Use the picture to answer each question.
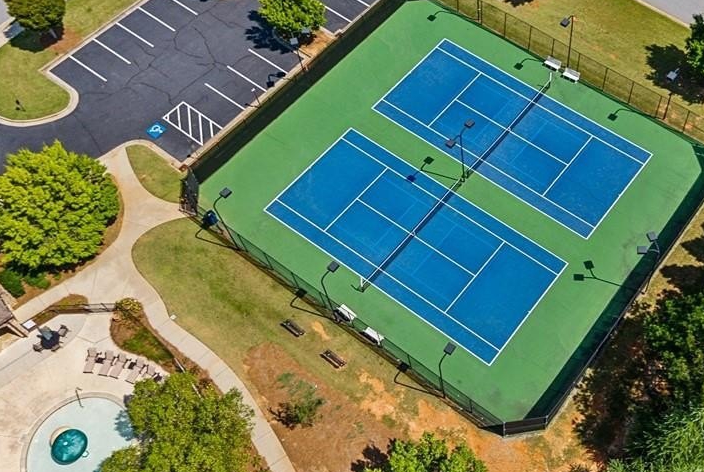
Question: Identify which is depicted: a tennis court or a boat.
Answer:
tennis court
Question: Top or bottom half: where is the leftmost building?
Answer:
bottom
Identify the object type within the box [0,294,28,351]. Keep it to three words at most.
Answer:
building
